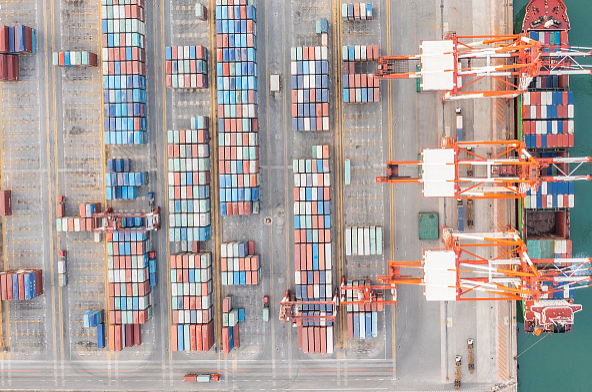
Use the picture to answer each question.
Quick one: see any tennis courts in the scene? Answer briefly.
No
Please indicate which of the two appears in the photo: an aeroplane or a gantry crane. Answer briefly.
gantry crane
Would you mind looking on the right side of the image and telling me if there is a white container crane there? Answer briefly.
Yes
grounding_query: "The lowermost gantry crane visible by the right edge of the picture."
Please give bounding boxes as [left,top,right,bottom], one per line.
[376,221,592,304]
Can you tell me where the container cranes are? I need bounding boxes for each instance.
[90,203,163,234]
[279,285,341,321]
[337,272,399,307]
[364,25,592,109]
[376,221,592,304]
[374,133,592,201]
